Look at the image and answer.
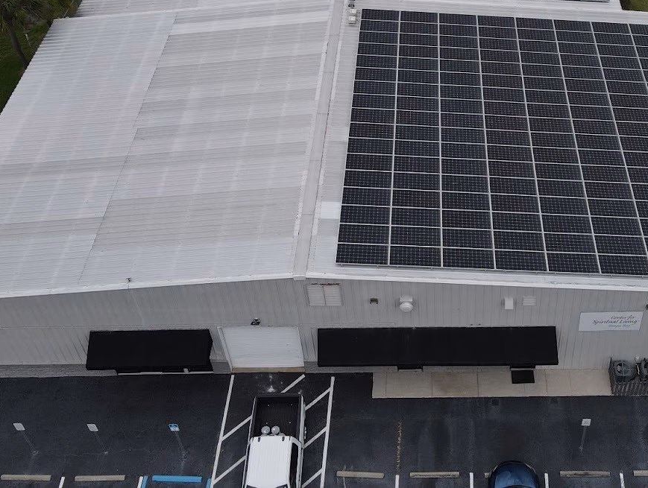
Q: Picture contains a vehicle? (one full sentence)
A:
Yes, there is a vehicle in the image.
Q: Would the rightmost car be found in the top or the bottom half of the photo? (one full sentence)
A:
You can find the rightmost car in the bottom half.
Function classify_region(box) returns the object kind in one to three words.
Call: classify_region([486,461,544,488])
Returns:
car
